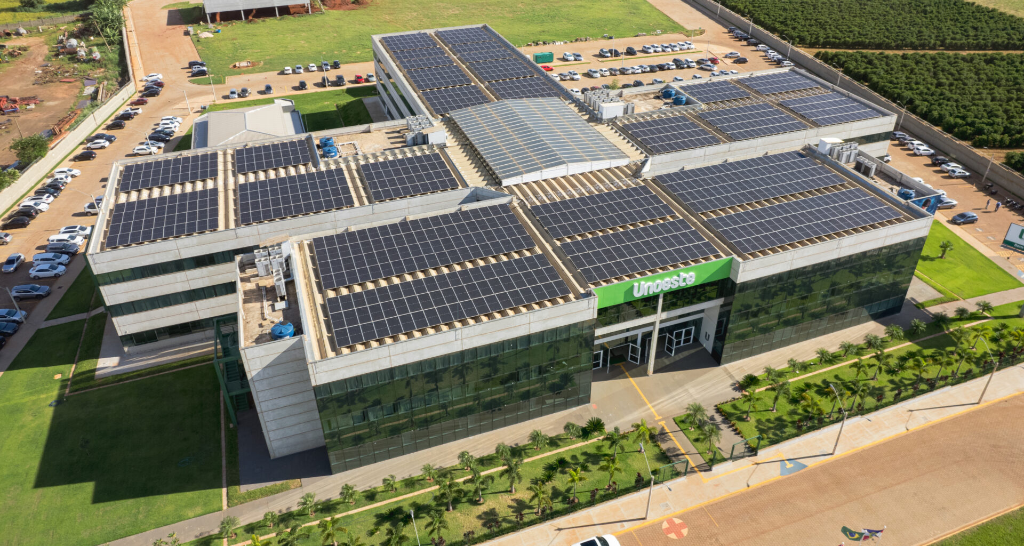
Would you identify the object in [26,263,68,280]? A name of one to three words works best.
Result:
car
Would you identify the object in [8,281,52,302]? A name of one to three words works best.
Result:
car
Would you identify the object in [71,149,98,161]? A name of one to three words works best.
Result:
vehicle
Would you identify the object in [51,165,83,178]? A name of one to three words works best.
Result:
vehicle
